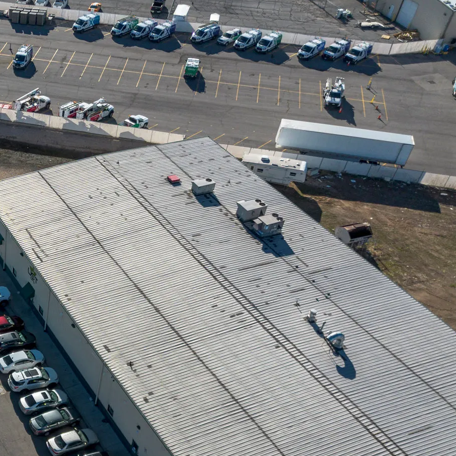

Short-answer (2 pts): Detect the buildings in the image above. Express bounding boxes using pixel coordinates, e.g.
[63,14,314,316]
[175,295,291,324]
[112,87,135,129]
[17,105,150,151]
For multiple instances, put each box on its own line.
[367,0,456,38]
[0,139,456,456]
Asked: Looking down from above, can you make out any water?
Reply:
No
